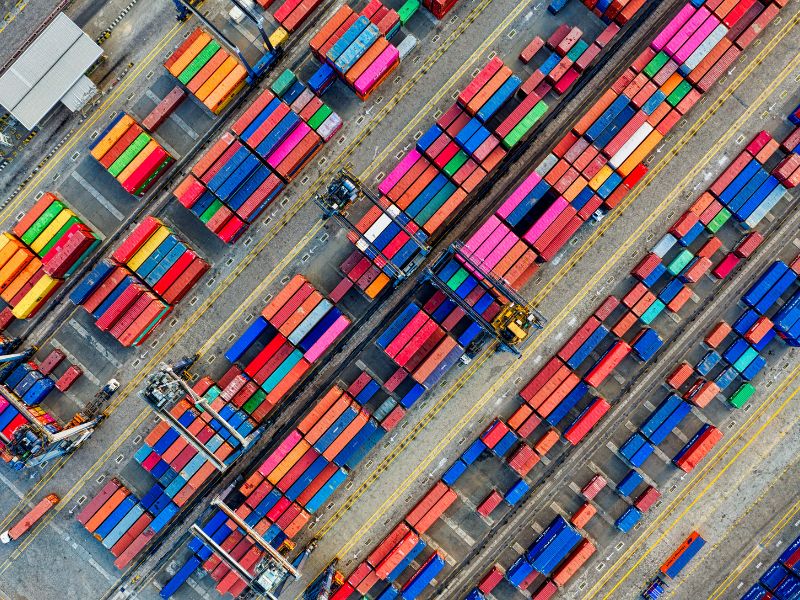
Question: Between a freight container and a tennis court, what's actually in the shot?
freight container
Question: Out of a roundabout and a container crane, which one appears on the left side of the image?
container crane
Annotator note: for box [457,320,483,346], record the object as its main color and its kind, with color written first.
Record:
blue shipping container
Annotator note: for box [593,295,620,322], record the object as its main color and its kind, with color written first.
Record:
red shipping container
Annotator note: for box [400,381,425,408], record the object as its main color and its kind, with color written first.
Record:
blue shipping container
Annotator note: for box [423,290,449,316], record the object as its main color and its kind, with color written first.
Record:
red shipping container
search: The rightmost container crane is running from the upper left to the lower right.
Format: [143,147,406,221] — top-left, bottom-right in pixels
[421,238,545,352]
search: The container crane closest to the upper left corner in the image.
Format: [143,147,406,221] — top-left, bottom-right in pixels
[170,0,287,91]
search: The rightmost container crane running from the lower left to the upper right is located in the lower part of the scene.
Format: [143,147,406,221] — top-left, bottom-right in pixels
[297,550,346,600]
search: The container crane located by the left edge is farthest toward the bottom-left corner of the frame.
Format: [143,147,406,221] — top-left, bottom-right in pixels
[0,341,112,476]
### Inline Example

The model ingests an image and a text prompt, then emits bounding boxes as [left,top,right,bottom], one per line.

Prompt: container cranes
[170,0,287,91]
[138,347,277,474]
[421,238,545,352]
[0,341,112,476]
[191,466,324,600]
[316,166,435,286]
[297,550,346,600]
